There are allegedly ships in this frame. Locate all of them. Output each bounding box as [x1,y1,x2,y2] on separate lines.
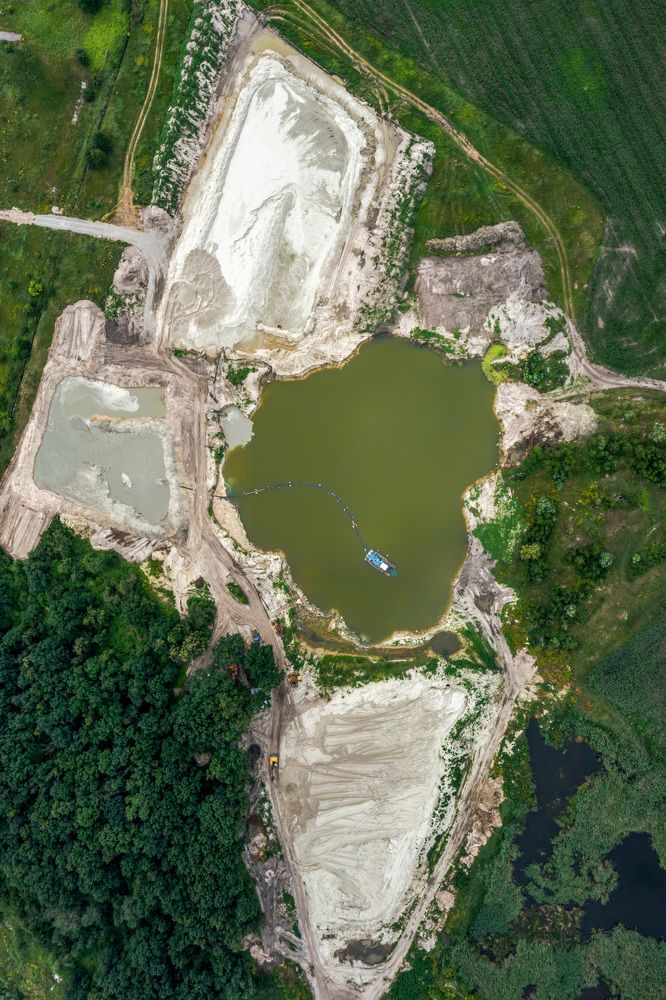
[363,547,398,576]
